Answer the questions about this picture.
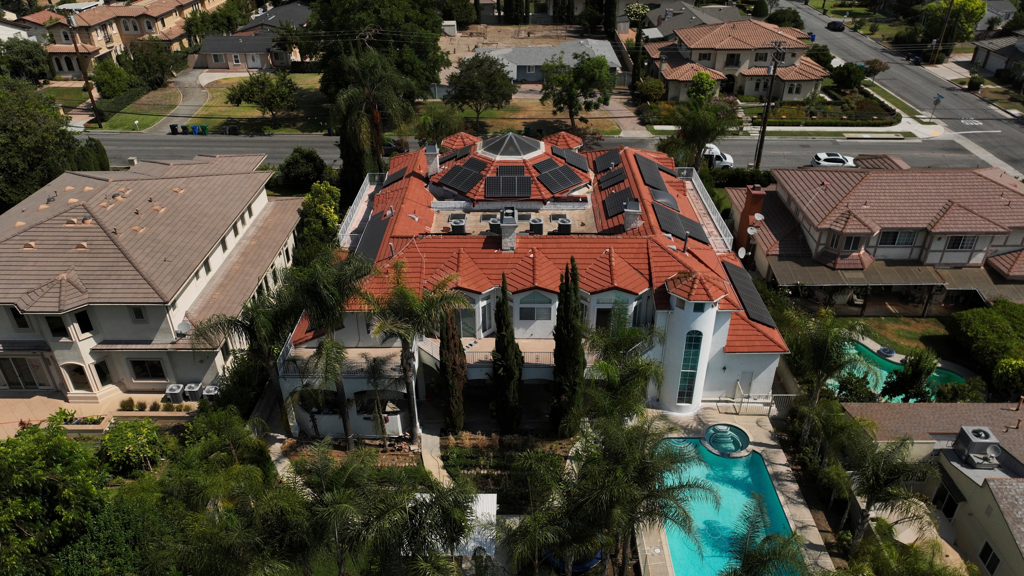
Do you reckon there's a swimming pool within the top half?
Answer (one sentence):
No, within the top half there is no swimming pool.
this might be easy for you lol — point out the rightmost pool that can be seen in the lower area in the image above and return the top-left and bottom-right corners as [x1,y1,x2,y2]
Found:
[834,341,957,403]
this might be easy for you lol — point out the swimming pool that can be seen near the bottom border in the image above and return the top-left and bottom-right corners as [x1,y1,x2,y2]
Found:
[638,434,818,576]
